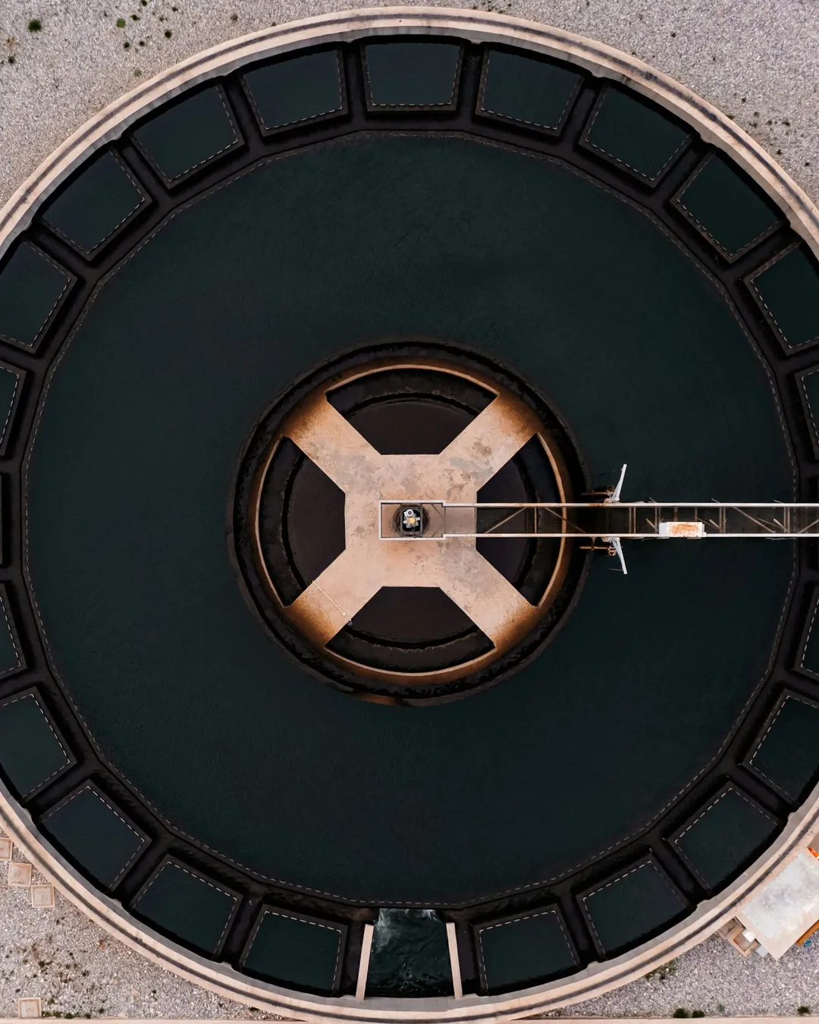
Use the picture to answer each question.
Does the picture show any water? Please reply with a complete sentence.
Yes, some water is visible.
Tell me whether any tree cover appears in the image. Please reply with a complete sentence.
No, there is no tree cover in the image.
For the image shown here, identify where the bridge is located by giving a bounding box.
[379,464,819,575]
